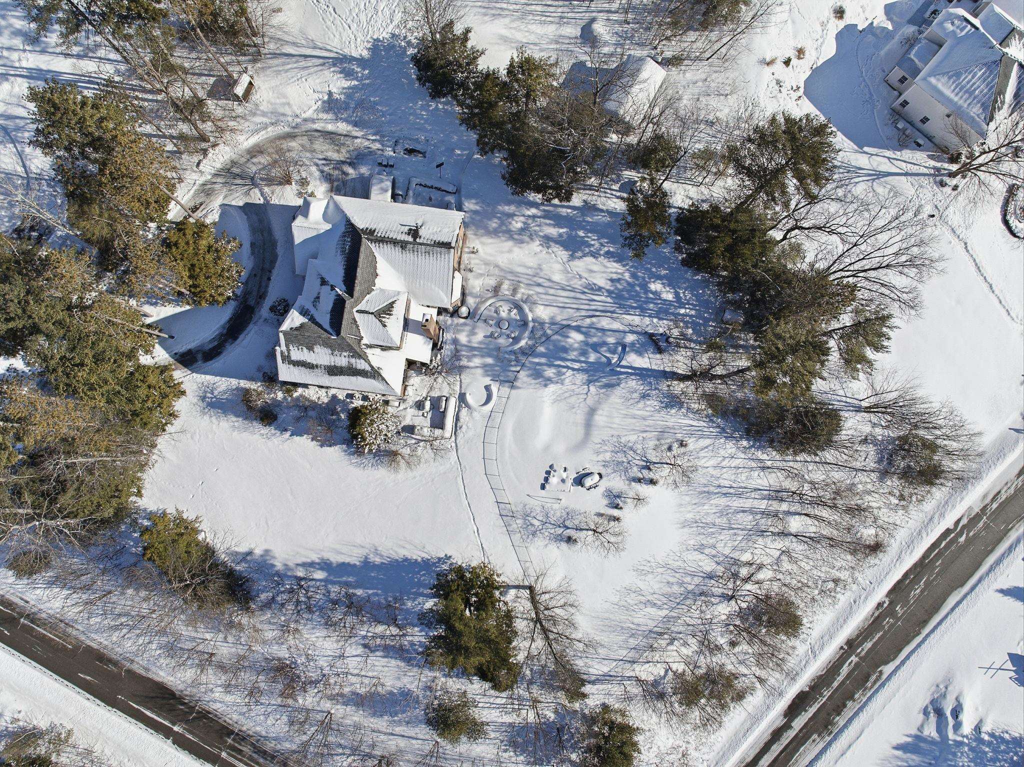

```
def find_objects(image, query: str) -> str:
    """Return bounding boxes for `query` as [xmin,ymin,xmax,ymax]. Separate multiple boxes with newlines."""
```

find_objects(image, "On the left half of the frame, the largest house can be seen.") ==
[279,196,465,396]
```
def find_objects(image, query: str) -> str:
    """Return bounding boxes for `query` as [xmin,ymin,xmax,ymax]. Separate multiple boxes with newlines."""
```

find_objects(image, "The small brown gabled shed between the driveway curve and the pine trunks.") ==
[233,74,258,105]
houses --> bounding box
[885,0,1024,152]
[279,196,465,396]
